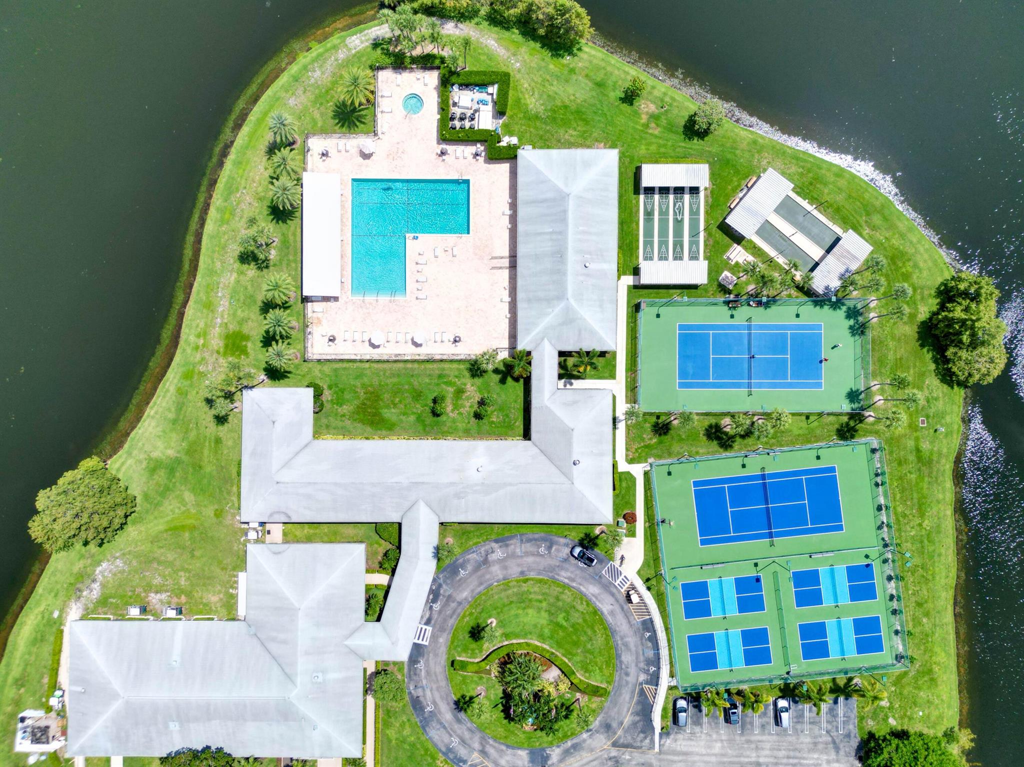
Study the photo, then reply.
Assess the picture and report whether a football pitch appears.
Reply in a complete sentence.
No, the frame has no football pitch in it.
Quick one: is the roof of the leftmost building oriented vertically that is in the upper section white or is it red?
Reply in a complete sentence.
The roof of the leftmost building oriented vertically that is in the upper section is white.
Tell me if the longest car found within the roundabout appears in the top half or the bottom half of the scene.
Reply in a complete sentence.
The bottom half of the photo is where the longest car found within the roundabout is.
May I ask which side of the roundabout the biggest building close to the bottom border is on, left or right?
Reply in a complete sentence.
The roundabout has the biggest building close to the bottom border on its left side.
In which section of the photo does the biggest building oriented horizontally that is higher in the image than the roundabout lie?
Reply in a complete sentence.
The biggest building oriented horizontally that is higher in the image than the roundabout is located in the center region of the scene.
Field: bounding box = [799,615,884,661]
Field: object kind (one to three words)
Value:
sports court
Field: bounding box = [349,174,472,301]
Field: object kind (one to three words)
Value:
swimming pool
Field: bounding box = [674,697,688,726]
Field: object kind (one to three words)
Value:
car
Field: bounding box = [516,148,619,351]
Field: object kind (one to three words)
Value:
building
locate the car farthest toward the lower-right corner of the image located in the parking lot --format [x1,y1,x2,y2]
[775,697,790,727]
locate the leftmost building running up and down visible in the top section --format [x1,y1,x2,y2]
[299,171,343,298]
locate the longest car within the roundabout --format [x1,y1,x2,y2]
[569,546,599,567]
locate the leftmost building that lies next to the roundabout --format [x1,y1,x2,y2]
[66,544,366,758]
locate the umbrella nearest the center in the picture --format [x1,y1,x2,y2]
[413,330,429,346]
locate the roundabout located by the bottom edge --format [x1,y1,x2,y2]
[405,532,660,767]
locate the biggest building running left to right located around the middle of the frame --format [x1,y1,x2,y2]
[241,339,613,524]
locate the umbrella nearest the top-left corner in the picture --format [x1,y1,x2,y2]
[360,139,376,155]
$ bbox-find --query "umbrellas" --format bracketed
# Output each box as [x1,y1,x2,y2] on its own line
[370,330,386,346]
[413,330,429,346]
[360,139,376,155]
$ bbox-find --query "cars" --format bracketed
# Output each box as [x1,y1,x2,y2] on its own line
[726,696,738,726]
[674,697,688,726]
[569,546,599,567]
[775,697,790,727]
